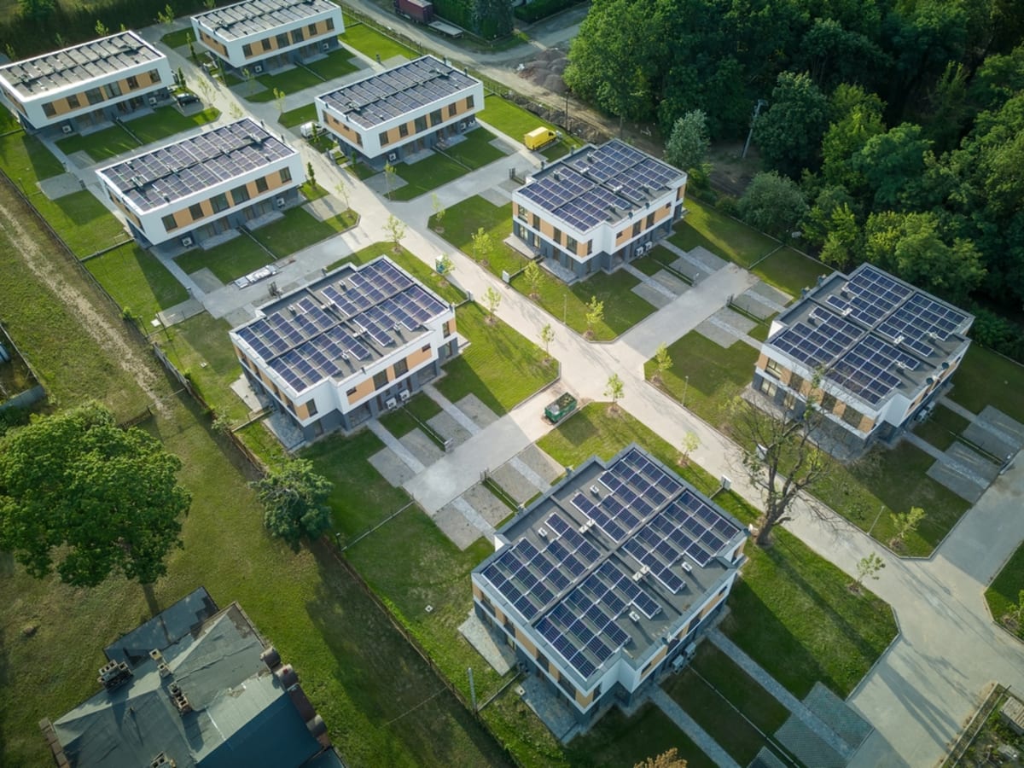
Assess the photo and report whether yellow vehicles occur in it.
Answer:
Yes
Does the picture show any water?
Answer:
No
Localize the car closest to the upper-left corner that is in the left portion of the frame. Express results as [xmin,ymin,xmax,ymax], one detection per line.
[173,93,201,107]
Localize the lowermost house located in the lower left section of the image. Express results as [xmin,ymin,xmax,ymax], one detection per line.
[31,593,341,768]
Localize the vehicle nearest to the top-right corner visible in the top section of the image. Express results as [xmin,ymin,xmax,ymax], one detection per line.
[528,126,562,150]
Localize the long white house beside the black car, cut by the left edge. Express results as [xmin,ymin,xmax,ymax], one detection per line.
[0,31,177,143]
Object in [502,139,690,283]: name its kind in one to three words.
house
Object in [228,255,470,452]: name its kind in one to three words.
house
